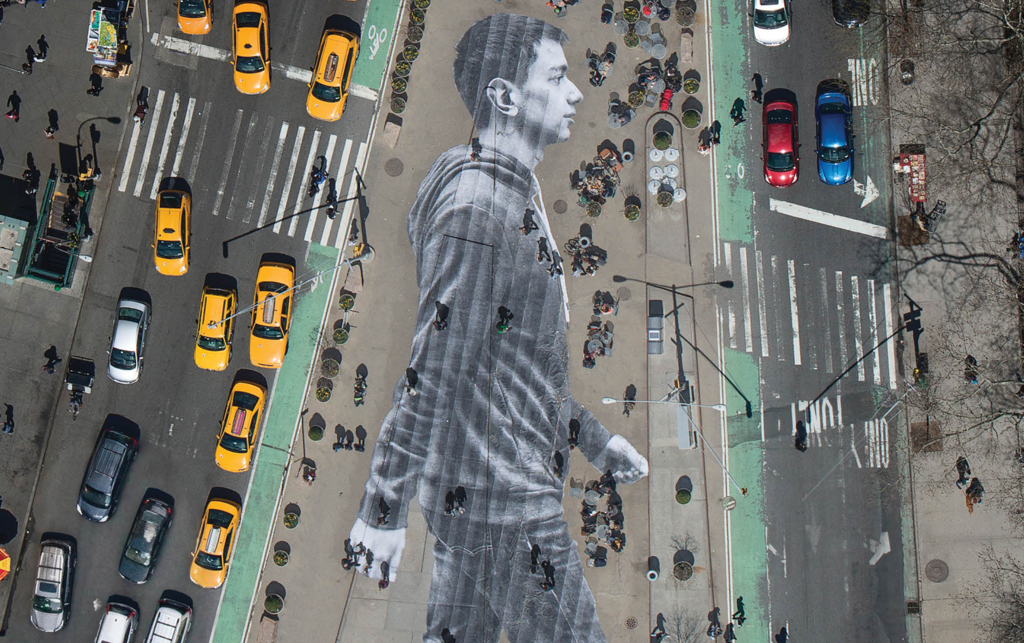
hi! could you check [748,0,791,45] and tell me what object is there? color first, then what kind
white car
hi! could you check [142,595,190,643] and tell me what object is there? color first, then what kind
white car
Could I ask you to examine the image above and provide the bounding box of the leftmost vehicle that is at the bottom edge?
[26,540,79,633]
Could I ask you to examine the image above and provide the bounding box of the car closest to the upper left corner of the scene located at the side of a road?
[171,0,215,34]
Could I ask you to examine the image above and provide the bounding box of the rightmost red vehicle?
[758,101,801,187]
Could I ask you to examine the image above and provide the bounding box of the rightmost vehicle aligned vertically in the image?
[812,92,856,185]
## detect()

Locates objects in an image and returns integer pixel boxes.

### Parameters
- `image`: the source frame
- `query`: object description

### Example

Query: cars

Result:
[26,540,79,633]
[187,497,242,590]
[829,0,873,27]
[229,2,272,94]
[306,26,360,121]
[104,296,153,384]
[171,0,215,34]
[758,101,801,187]
[245,263,297,368]
[812,92,856,185]
[214,378,270,474]
[149,190,194,275]
[95,602,140,643]
[189,284,239,371]
[75,423,142,525]
[119,496,175,586]
[142,595,190,643]
[748,0,791,45]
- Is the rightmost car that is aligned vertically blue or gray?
blue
